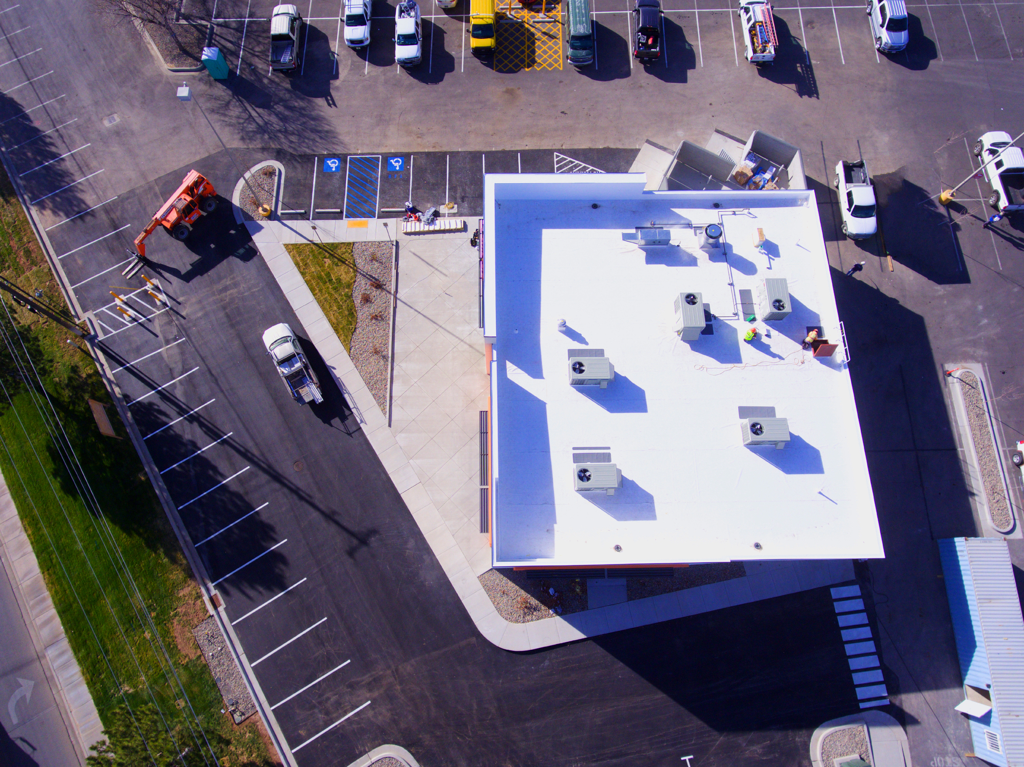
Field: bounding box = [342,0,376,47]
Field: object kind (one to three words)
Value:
truck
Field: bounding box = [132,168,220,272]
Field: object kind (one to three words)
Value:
work vehicle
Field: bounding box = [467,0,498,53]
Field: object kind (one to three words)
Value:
van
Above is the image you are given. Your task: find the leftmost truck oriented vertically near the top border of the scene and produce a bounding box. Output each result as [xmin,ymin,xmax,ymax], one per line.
[267,4,301,72]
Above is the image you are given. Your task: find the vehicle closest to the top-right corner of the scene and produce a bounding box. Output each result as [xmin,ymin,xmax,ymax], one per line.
[867,0,910,53]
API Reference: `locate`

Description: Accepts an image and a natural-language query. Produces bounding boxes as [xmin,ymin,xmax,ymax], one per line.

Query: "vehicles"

[267,4,301,72]
[467,0,498,53]
[564,0,596,65]
[867,0,910,53]
[980,133,1024,204]
[743,0,779,54]
[263,323,324,408]
[436,0,458,9]
[630,0,662,53]
[835,163,878,240]
[132,168,220,272]
[516,0,538,5]
[391,2,423,65]
[1013,439,1024,471]
[342,0,376,47]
